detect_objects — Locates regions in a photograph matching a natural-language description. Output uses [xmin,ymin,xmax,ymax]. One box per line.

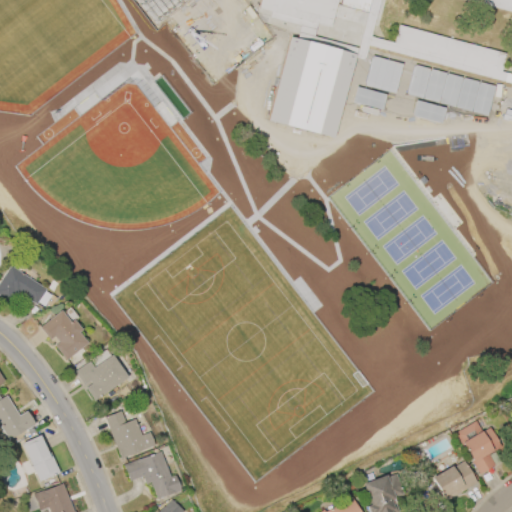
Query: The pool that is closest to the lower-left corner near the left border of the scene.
[8,464,28,490]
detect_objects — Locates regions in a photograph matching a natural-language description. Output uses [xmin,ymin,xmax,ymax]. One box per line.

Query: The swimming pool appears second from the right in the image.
[379,461,404,474]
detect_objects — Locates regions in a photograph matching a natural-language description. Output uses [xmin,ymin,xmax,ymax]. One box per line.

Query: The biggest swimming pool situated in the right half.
[418,430,462,472]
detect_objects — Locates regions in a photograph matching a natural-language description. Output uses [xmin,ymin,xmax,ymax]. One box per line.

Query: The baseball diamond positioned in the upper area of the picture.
[17,84,217,230]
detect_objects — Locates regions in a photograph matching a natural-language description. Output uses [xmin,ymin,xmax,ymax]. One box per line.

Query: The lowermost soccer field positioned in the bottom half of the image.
[116,206,372,480]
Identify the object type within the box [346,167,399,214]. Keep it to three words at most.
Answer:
tennis court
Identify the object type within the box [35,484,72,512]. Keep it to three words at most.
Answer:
house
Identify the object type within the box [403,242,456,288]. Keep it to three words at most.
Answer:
tennis court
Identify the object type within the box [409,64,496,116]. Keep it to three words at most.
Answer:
building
